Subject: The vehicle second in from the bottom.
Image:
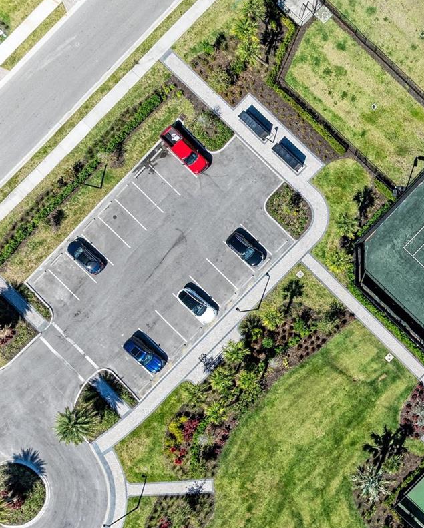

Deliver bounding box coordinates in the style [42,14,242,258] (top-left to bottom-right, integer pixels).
[175,286,214,325]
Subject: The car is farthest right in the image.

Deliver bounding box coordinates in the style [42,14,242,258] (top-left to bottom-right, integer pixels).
[227,229,265,266]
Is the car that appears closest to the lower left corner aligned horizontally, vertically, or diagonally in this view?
diagonally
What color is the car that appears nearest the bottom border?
blue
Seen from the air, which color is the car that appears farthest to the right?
black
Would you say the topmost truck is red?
Yes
